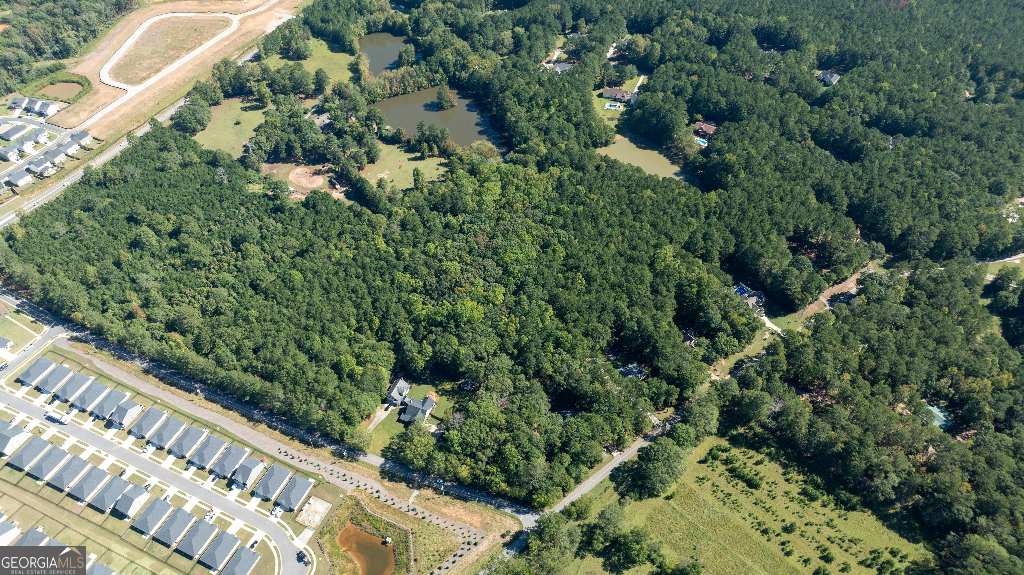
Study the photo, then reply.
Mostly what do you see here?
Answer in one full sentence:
For the most part, this view shows trees.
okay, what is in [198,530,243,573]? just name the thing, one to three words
house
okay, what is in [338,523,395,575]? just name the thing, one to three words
pond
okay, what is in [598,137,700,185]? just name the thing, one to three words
pond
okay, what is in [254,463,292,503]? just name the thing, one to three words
house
